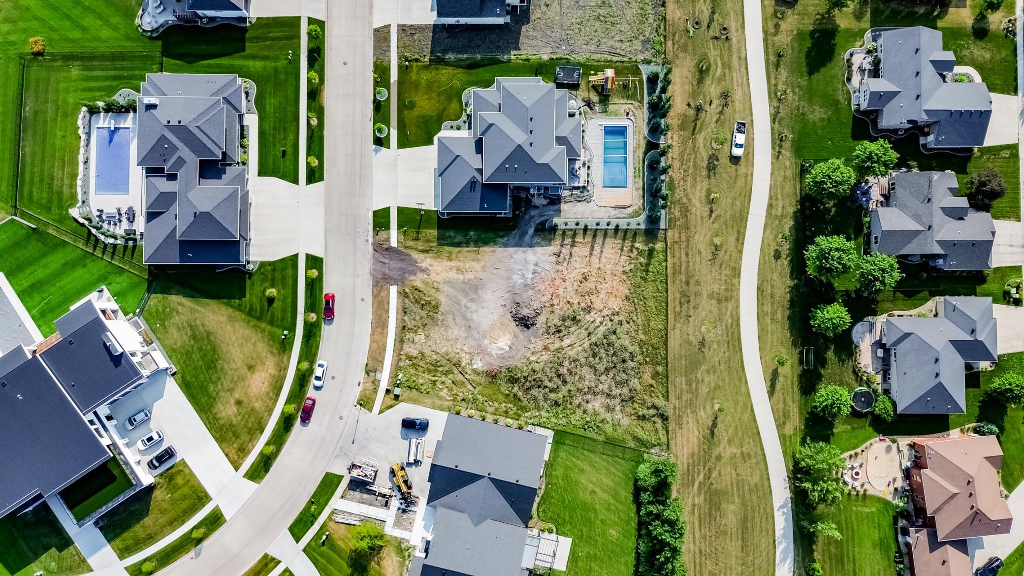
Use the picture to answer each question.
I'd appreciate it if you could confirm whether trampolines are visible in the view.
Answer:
Yes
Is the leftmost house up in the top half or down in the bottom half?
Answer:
bottom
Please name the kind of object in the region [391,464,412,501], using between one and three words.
work vehicle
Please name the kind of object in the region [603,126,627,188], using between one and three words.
swimming pool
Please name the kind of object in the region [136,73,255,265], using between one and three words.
house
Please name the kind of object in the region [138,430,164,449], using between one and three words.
car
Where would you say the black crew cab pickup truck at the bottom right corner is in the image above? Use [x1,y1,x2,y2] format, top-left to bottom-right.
[974,553,1006,576]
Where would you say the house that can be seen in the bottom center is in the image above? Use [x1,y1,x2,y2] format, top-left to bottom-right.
[409,412,548,576]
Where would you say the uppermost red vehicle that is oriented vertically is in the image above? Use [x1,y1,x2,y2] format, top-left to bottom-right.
[324,293,336,318]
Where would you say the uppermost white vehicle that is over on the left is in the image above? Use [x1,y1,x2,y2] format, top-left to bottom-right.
[313,360,328,387]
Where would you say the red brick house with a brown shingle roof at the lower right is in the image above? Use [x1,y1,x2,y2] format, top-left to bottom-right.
[899,429,1014,576]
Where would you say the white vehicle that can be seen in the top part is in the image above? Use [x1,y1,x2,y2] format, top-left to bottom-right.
[730,121,746,157]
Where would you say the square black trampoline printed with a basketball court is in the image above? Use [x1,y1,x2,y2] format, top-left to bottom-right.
[556,61,582,85]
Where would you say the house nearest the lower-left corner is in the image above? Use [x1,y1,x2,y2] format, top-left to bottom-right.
[0,298,177,528]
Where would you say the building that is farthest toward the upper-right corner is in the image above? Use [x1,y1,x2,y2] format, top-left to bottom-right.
[854,26,991,148]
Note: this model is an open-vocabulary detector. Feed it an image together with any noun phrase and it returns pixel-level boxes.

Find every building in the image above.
[136,73,255,265]
[409,412,548,576]
[854,26,991,148]
[436,0,506,25]
[437,77,583,212]
[875,296,998,414]
[186,0,251,18]
[865,171,996,270]
[899,429,1014,576]
[0,298,177,528]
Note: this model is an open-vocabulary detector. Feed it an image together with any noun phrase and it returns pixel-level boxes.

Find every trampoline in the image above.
[854,388,878,414]
[556,61,582,85]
